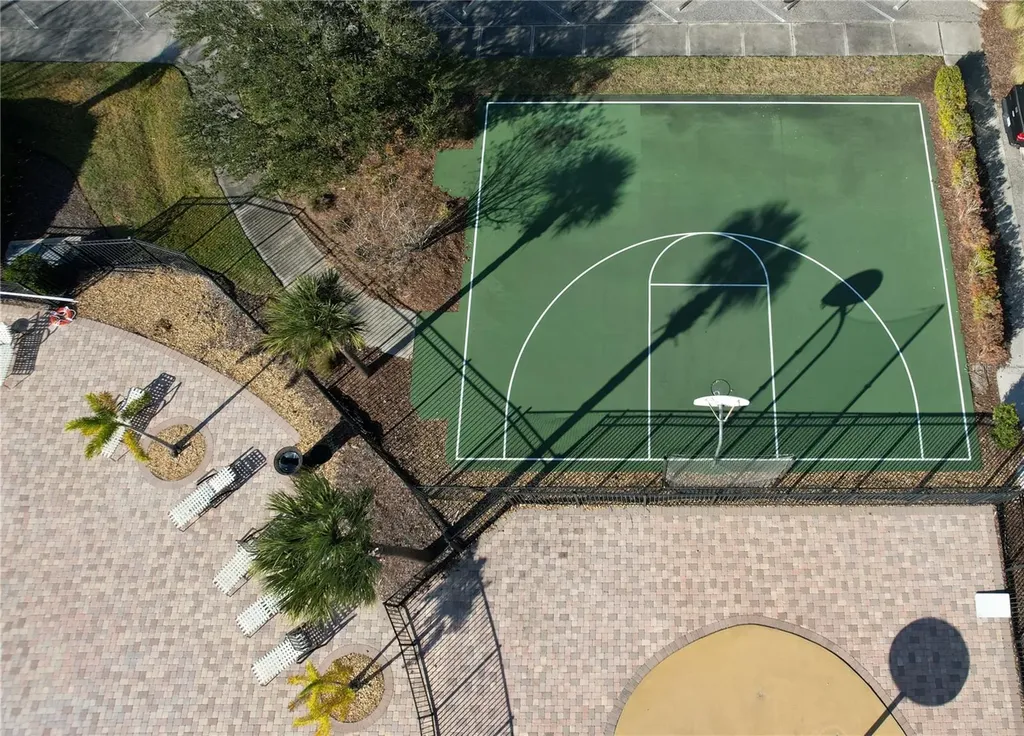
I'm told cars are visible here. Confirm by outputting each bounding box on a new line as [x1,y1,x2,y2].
[998,88,1024,152]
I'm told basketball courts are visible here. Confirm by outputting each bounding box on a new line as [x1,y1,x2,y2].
[411,95,981,471]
